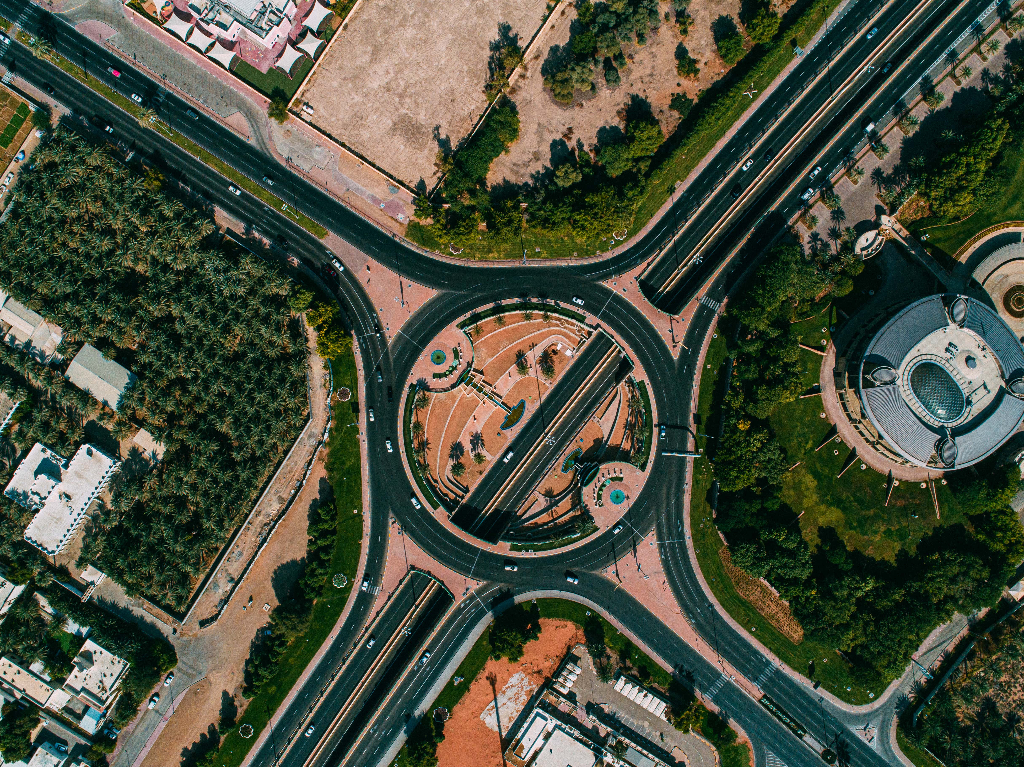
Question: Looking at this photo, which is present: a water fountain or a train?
water fountain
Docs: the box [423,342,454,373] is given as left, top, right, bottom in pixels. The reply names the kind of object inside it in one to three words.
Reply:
fountain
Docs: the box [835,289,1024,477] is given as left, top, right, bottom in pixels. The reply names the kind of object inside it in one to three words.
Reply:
building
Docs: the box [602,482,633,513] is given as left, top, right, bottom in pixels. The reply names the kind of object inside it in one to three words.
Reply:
fountain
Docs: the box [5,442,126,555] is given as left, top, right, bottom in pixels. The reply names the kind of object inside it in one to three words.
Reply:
house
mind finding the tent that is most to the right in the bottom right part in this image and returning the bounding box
[1003,578,1024,604]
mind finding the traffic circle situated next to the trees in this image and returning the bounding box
[366,265,690,589]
